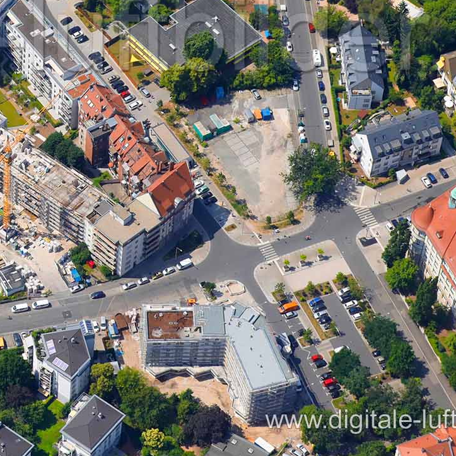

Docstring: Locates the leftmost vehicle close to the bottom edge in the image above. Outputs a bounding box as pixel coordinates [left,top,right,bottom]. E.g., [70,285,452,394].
[250,429,281,456]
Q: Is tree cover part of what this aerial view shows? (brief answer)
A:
Yes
